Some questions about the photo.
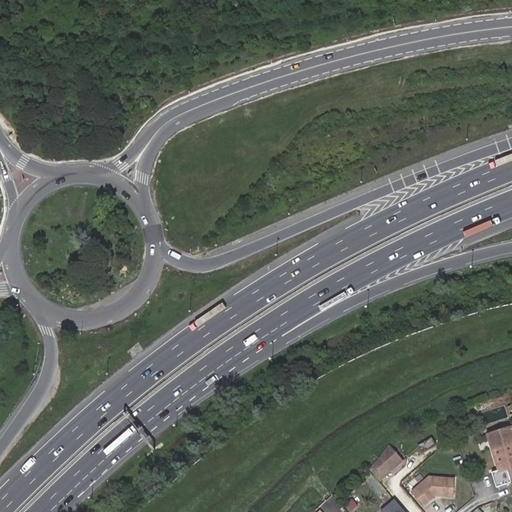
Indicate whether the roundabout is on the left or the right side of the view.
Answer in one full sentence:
It is on the left.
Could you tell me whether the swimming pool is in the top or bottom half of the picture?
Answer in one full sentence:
The swimming pool sits in the bottom half of the picture.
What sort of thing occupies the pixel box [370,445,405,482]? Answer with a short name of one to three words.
house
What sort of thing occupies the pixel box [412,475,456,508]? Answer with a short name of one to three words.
house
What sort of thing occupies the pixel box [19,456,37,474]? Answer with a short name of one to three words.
vehicle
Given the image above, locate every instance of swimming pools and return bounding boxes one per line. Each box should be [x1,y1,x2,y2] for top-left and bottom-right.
[480,404,510,426]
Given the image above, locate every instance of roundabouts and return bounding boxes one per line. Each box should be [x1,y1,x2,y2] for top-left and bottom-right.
[0,164,196,332]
